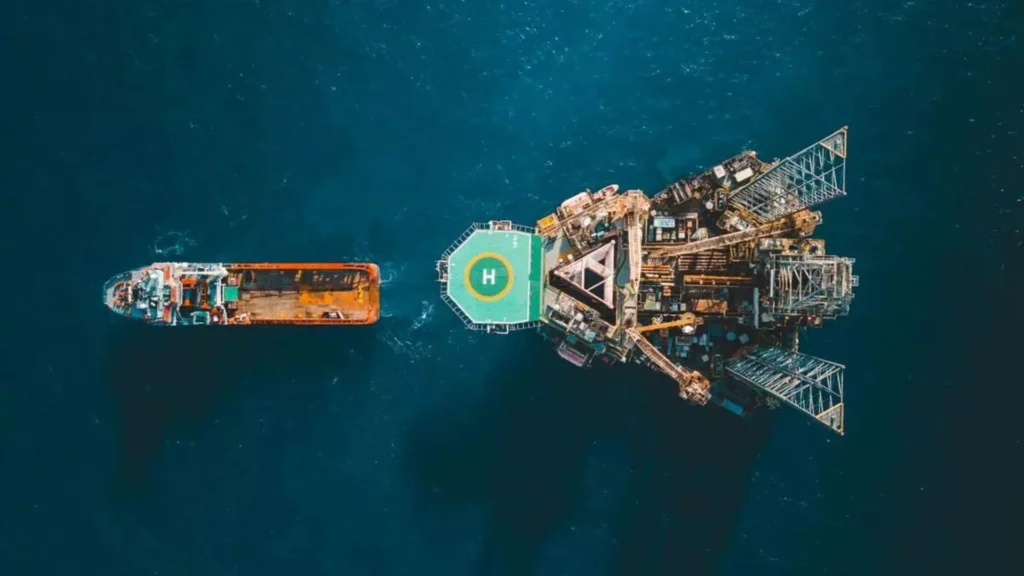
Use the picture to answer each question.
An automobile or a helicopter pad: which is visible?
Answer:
helicopter pad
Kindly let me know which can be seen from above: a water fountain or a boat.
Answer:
boat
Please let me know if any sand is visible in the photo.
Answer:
No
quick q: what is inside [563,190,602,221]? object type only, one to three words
boat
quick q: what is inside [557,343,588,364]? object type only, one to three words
boat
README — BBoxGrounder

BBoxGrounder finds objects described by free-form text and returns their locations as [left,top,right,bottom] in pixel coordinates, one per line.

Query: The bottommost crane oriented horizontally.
[637,313,703,335]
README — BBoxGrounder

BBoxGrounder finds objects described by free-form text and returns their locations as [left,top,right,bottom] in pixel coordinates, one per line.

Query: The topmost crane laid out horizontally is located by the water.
[638,205,826,268]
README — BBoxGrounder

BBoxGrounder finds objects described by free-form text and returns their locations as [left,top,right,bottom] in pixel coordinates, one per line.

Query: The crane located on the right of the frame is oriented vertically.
[609,189,653,299]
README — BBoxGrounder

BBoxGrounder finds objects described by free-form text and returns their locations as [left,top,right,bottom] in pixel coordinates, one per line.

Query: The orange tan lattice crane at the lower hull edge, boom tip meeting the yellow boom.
[619,322,717,408]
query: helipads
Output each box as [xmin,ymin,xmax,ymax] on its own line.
[437,220,546,333]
